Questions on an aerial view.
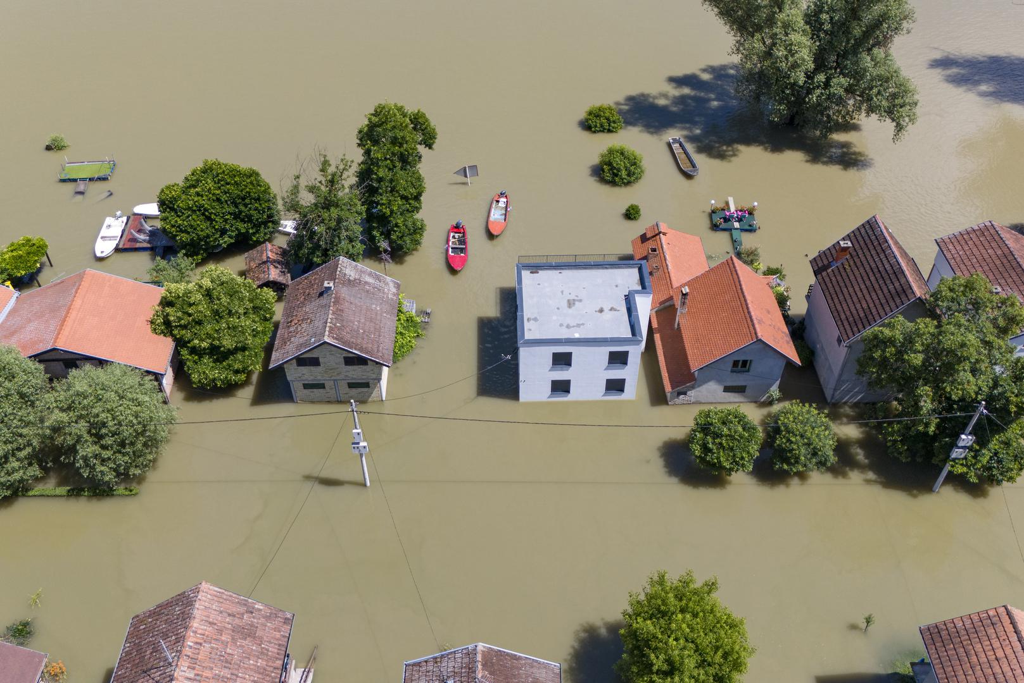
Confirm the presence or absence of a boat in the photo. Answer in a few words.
Yes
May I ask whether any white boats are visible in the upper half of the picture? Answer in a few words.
Yes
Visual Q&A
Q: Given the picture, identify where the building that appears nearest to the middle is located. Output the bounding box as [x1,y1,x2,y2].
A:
[512,250,653,402]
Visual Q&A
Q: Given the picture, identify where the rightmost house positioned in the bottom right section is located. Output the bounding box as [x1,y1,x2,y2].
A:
[910,604,1024,683]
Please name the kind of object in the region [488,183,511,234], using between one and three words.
boat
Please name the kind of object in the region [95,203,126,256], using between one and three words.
boat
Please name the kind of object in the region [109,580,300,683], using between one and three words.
house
